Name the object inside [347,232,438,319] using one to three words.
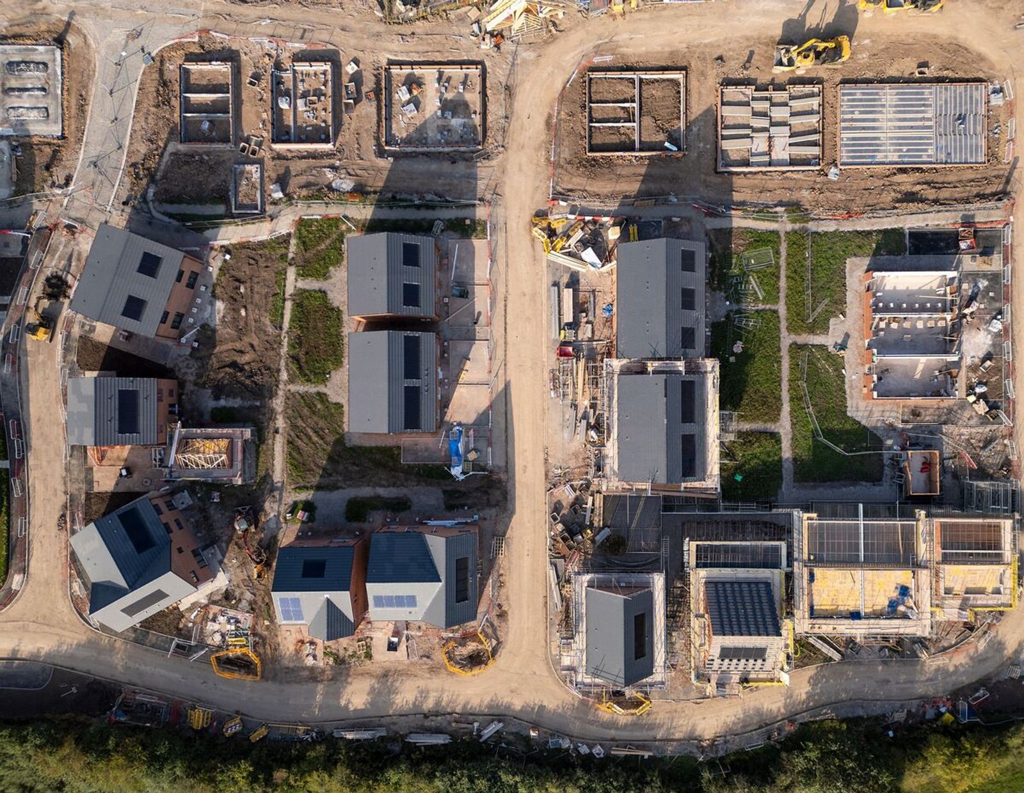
house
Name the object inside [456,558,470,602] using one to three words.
solar array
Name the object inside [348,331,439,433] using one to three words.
house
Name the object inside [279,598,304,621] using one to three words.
solar array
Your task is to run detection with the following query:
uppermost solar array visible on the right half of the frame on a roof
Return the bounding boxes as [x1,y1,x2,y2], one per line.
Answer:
[681,249,695,271]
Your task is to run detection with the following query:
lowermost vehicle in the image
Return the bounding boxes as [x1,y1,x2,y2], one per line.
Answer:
[231,513,261,564]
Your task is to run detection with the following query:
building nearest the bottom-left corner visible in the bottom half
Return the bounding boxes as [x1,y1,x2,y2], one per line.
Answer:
[71,493,215,633]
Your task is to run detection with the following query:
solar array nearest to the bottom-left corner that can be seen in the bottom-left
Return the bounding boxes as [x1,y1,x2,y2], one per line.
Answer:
[120,589,169,617]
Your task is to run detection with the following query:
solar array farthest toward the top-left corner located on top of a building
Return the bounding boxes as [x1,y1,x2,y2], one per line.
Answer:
[137,251,162,278]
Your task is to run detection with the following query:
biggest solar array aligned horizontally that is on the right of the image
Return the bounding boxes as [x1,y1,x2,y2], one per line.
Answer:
[719,646,767,659]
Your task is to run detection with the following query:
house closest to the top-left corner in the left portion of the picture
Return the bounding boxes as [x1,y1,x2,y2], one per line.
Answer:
[71,223,202,339]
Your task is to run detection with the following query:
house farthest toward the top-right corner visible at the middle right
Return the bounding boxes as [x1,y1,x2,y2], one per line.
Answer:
[855,271,959,399]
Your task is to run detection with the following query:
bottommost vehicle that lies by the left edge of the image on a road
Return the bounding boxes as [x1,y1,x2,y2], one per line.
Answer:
[21,297,51,342]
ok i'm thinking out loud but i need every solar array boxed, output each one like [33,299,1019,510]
[681,249,695,271]
[120,589,169,617]
[456,558,470,602]
[682,434,696,476]
[403,244,419,266]
[279,598,304,621]
[681,288,695,310]
[118,506,156,554]
[137,251,162,278]
[403,283,420,306]
[302,560,326,577]
[404,336,420,378]
[404,386,420,428]
[681,327,695,349]
[681,381,695,423]
[635,613,645,659]
[122,295,146,322]
[719,646,767,659]
[373,595,417,608]
[118,389,139,433]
